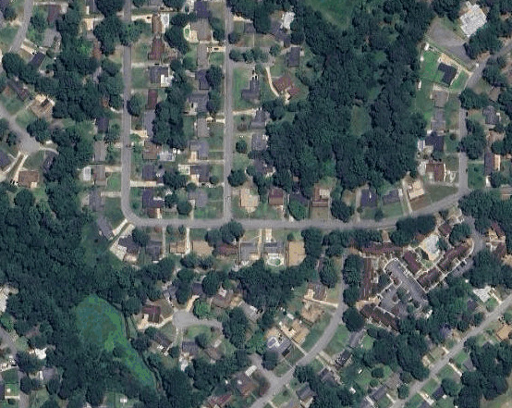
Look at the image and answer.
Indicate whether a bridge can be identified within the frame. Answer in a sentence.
No, no bridge is visible in the scene.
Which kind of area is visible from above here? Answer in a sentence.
The area seen from above is a residential area.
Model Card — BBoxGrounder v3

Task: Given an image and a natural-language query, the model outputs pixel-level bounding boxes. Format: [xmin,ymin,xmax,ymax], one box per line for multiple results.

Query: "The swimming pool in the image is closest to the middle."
[267,254,284,267]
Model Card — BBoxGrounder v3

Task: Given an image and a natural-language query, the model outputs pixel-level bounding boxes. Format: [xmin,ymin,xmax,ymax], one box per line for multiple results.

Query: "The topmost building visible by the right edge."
[459,5,490,34]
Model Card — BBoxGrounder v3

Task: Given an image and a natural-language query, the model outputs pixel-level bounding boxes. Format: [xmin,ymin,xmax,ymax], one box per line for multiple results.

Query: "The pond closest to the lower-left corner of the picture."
[77,295,155,388]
